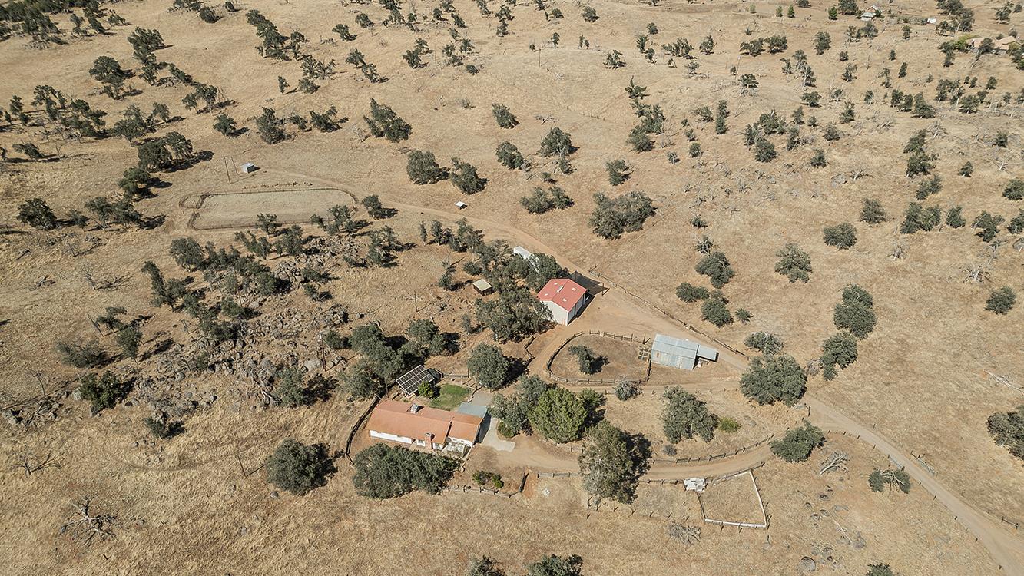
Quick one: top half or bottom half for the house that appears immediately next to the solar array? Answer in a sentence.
It is in the bottom half that the house that appears immediately next to the solar array appears.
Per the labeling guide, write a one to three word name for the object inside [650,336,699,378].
shed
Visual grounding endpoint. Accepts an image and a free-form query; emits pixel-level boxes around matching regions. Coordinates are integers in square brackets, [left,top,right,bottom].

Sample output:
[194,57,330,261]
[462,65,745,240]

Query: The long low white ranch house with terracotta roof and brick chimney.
[367,400,488,450]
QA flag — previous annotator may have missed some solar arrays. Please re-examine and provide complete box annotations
[396,365,433,396]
